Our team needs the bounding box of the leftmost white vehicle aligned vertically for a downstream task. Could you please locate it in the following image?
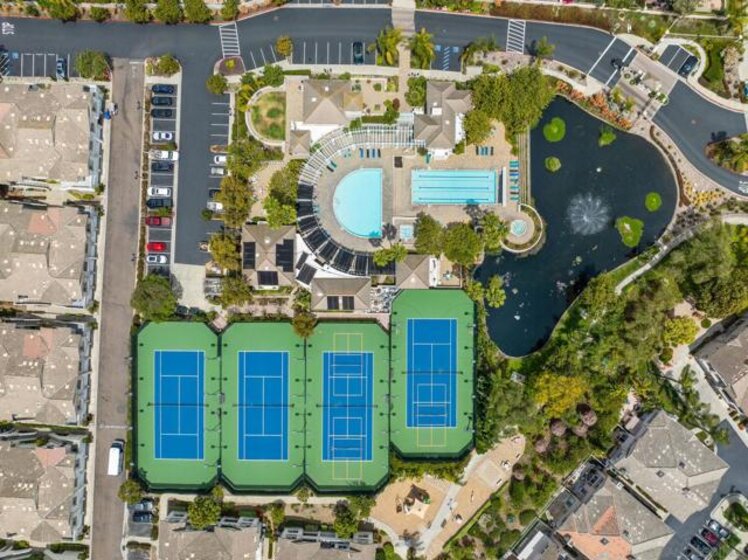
[109,439,124,474]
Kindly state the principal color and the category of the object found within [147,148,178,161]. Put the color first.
white vehicle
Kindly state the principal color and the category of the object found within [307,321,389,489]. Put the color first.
green tennis court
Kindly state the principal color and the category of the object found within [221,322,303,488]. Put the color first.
green tennis court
